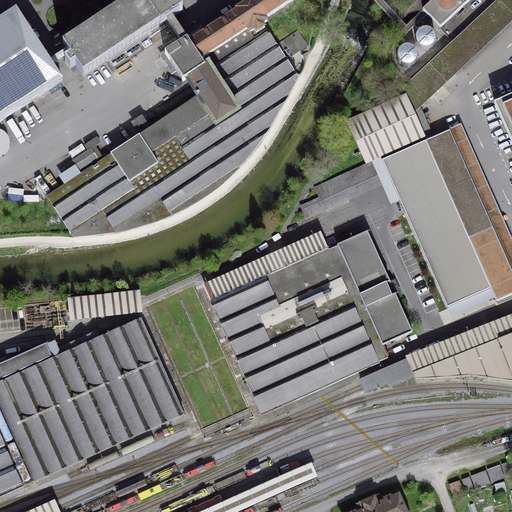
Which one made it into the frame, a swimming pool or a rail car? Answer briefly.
rail car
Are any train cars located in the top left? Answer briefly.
No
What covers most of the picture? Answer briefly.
buildings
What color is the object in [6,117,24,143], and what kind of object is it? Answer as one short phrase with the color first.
white vehicle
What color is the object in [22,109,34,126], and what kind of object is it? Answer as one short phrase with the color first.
white vehicle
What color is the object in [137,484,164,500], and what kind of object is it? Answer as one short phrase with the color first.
yellow rail car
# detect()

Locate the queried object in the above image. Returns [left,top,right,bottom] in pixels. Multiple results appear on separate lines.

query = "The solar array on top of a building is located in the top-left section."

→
[0,51,46,110]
